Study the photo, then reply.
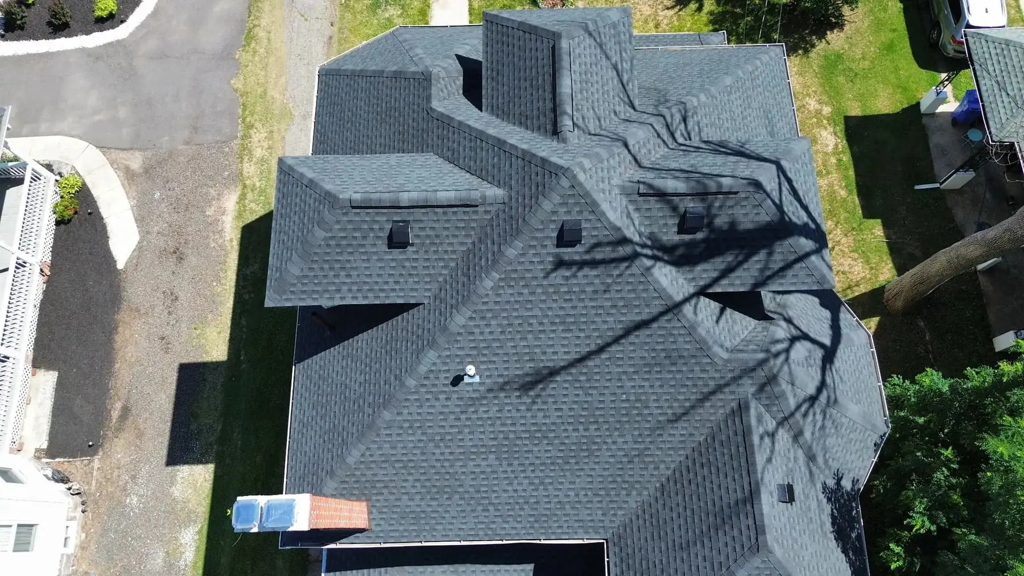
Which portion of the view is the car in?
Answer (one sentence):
Look in the top right portion of the view to spot the car.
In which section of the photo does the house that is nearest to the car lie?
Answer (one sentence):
The house that is nearest to the car is in the top right part of the image.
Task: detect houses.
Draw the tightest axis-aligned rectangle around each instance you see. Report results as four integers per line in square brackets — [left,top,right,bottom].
[0,109,78,576]
[960,27,1024,181]
[220,7,888,576]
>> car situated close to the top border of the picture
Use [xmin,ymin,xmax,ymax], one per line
[924,0,1008,59]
